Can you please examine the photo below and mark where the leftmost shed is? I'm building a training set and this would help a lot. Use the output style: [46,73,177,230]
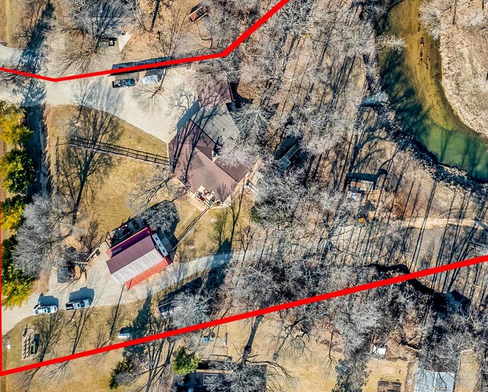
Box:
[55,264,74,285]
